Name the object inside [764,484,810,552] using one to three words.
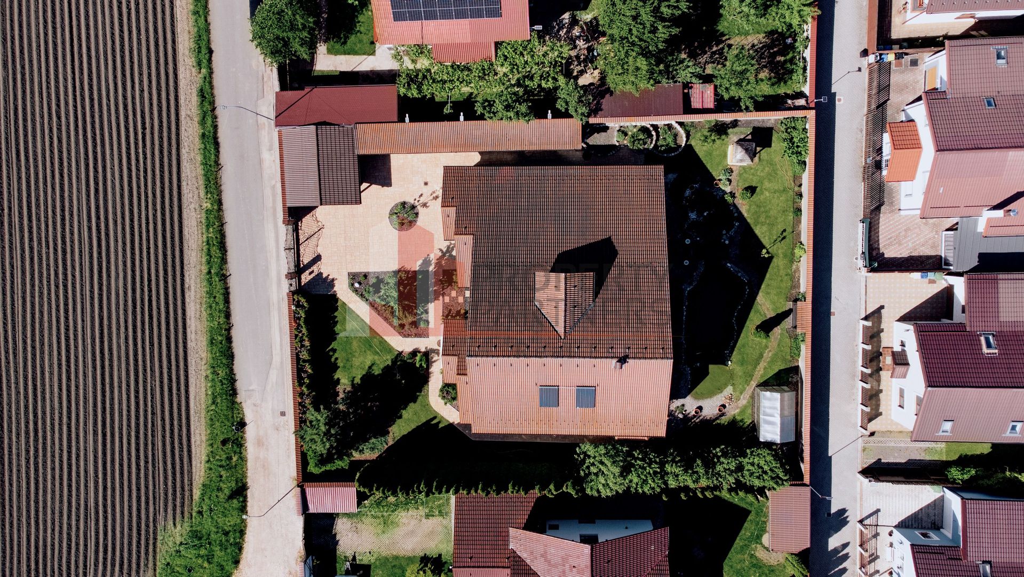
building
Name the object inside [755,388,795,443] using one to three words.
greenhouse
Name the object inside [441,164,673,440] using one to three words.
house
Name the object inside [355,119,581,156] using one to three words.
shed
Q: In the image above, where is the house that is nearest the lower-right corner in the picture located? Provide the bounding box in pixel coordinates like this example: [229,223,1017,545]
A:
[896,491,1024,577]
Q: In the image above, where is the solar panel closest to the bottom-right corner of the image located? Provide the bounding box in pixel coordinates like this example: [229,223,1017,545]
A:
[576,388,596,410]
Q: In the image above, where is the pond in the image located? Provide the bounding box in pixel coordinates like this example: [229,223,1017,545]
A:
[674,195,749,395]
